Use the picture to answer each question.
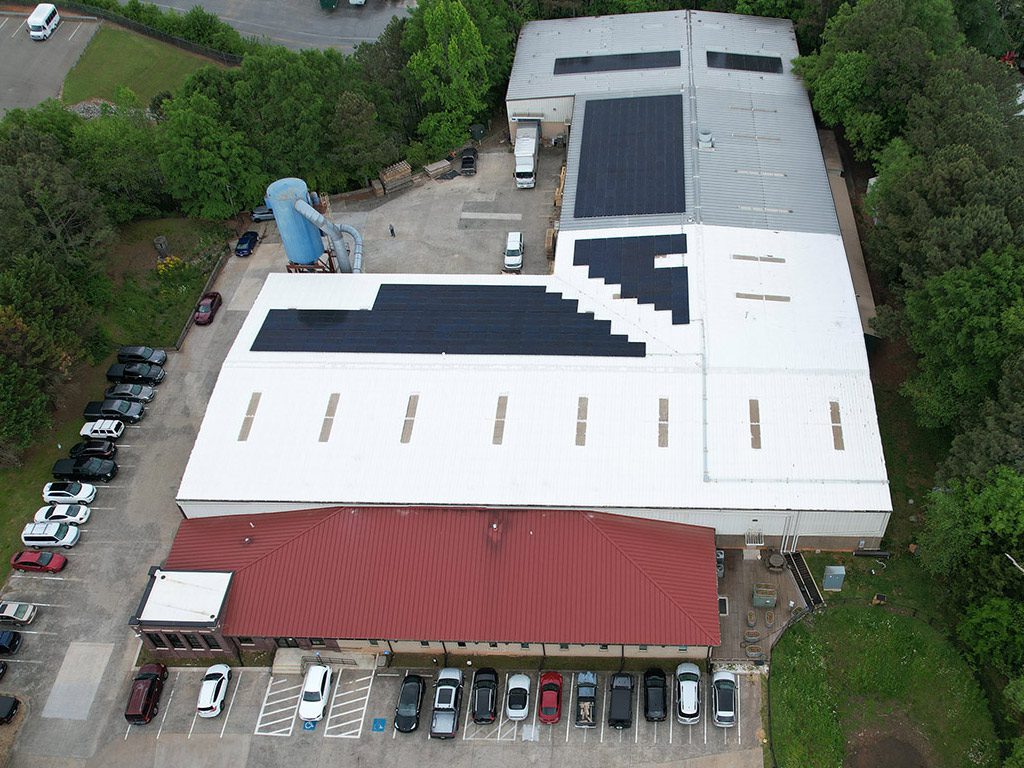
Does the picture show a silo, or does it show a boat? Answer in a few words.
silo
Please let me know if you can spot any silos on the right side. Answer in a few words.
No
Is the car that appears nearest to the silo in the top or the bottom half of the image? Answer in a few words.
top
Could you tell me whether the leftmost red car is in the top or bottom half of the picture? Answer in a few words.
bottom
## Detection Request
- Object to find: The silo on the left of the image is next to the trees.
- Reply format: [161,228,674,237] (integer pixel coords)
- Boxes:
[266,178,364,274]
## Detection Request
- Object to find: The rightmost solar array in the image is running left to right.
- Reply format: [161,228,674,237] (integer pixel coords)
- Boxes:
[707,49,784,72]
